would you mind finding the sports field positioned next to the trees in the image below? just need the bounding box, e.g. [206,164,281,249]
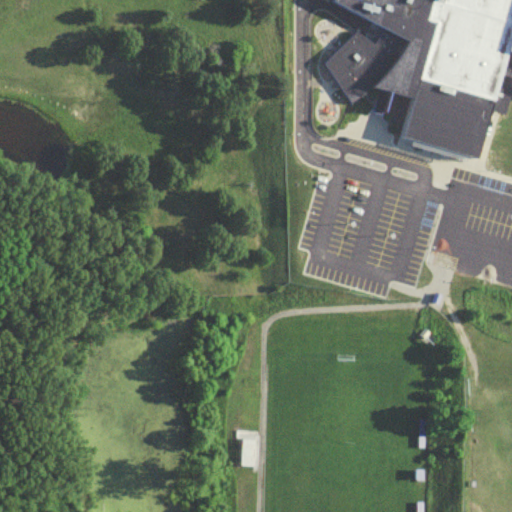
[262,308,429,512]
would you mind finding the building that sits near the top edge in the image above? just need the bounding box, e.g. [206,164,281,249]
[326,0,512,162]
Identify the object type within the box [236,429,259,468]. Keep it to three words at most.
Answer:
building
